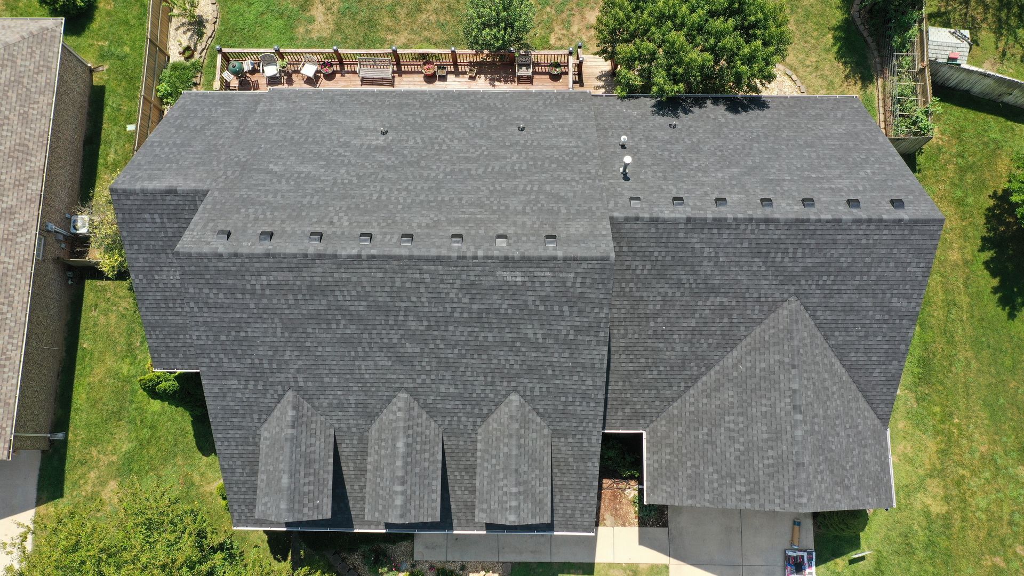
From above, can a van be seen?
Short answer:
No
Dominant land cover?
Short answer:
buildings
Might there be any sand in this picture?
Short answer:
No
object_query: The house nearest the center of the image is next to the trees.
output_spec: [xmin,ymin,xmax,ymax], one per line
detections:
[111,88,946,537]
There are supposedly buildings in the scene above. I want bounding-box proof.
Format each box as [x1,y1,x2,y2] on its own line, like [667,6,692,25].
[0,15,99,458]
[928,27,970,67]
[111,88,946,537]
